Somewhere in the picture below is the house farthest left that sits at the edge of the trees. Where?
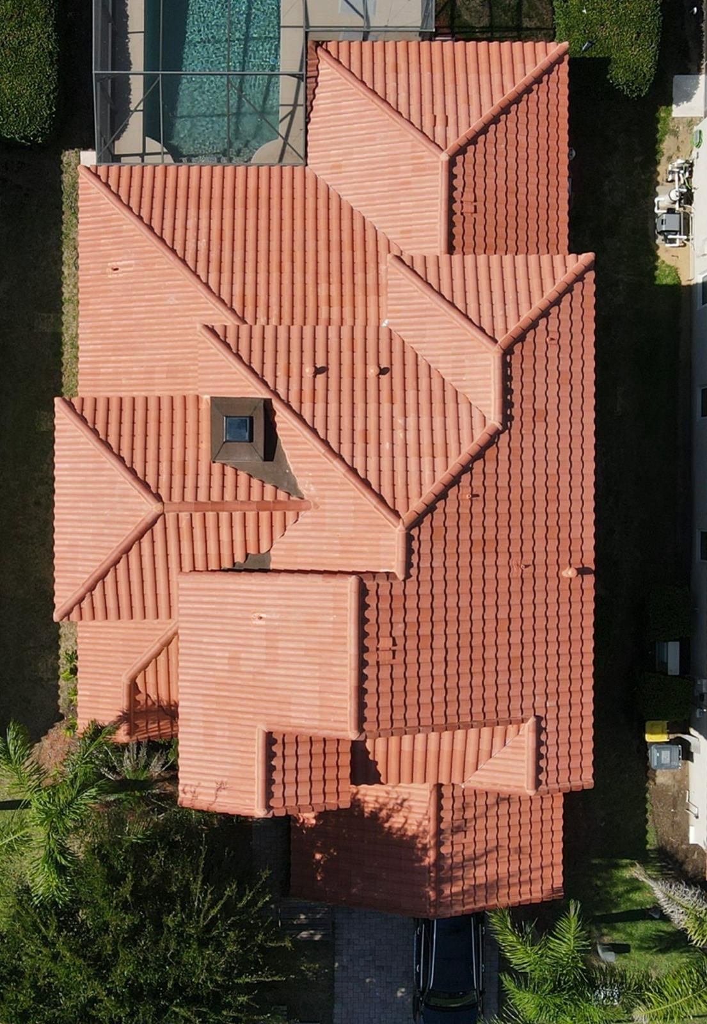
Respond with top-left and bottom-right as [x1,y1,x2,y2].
[51,39,599,923]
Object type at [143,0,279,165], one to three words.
swimming pool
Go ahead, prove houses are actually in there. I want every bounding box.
[688,109,707,863]
[51,39,599,923]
